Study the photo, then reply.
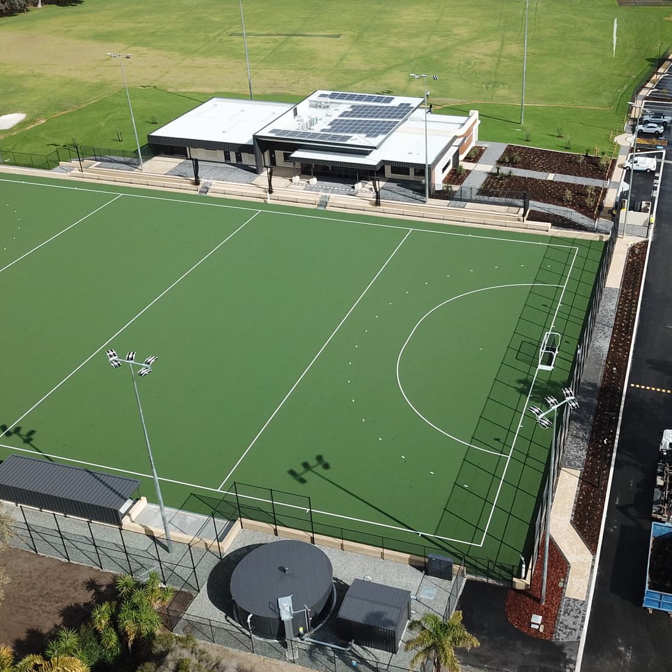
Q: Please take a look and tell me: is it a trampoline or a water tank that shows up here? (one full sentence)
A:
Of the two, only a water tank appears.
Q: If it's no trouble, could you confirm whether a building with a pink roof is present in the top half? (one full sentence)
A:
No, there is no building with a pink roof in the top half.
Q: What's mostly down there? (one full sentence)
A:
Most of the picture is covered by grass.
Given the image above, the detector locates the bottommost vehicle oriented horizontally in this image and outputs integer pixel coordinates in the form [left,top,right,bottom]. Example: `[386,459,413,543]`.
[627,154,662,171]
